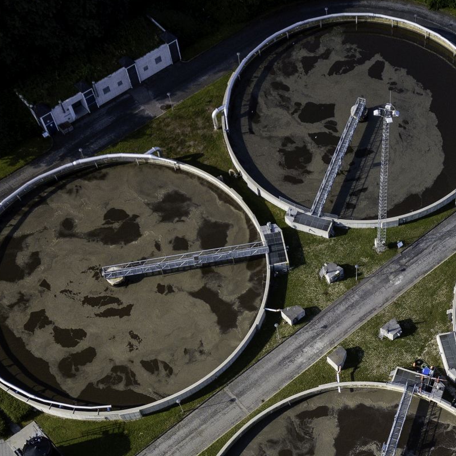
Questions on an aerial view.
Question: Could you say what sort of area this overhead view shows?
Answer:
industrial area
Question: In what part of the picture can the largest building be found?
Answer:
top left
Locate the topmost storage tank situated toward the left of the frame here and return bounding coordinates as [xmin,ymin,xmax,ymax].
[0,148,290,421]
